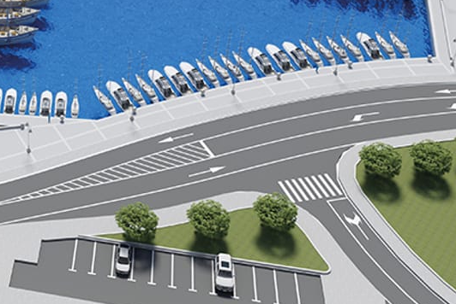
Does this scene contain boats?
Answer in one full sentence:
Yes, the picture does show a boat.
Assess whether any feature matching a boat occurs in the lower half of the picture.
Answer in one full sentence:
No, I see no boat in the lower half of the picture.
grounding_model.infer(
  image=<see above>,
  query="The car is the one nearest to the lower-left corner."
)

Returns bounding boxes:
[116,245,132,275]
